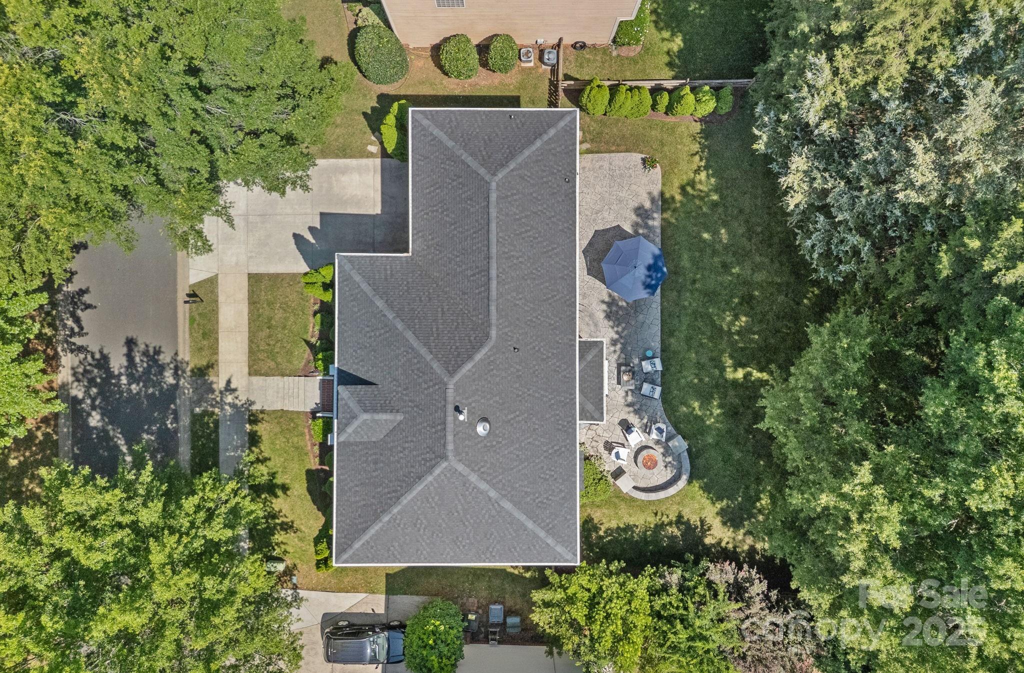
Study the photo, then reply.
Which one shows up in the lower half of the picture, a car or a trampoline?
car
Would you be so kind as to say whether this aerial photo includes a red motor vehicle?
No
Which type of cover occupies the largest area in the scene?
trees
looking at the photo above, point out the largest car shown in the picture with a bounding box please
[321,620,405,671]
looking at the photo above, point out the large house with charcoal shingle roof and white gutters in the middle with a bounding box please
[329,108,609,566]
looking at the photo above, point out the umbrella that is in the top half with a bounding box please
[601,235,667,301]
